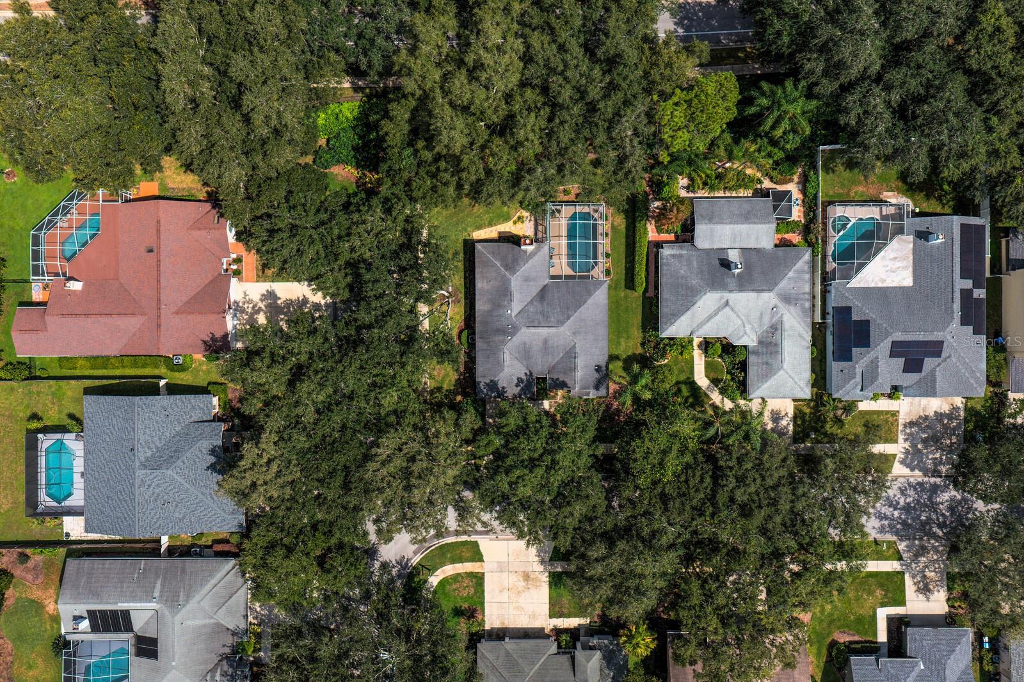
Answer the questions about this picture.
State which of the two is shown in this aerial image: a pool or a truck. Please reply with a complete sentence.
Looking from above, you can make out a pool.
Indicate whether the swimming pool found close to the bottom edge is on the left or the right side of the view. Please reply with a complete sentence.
The swimming pool found close to the bottom edge is on the left side of the image.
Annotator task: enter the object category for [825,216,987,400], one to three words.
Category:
house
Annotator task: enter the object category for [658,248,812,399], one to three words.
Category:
house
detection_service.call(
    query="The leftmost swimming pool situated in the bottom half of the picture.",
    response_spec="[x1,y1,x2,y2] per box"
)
[43,437,78,507]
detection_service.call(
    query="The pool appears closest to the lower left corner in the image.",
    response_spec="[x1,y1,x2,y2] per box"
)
[85,645,133,682]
